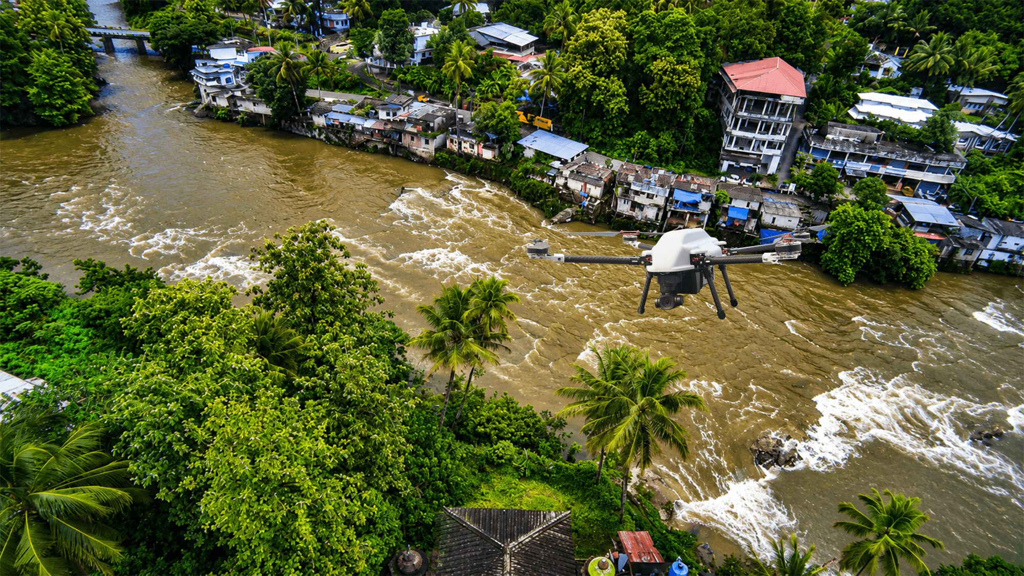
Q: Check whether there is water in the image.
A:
Yes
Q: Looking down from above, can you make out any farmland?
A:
No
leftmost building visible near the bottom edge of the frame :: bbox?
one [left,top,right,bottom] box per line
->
[435,506,573,576]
